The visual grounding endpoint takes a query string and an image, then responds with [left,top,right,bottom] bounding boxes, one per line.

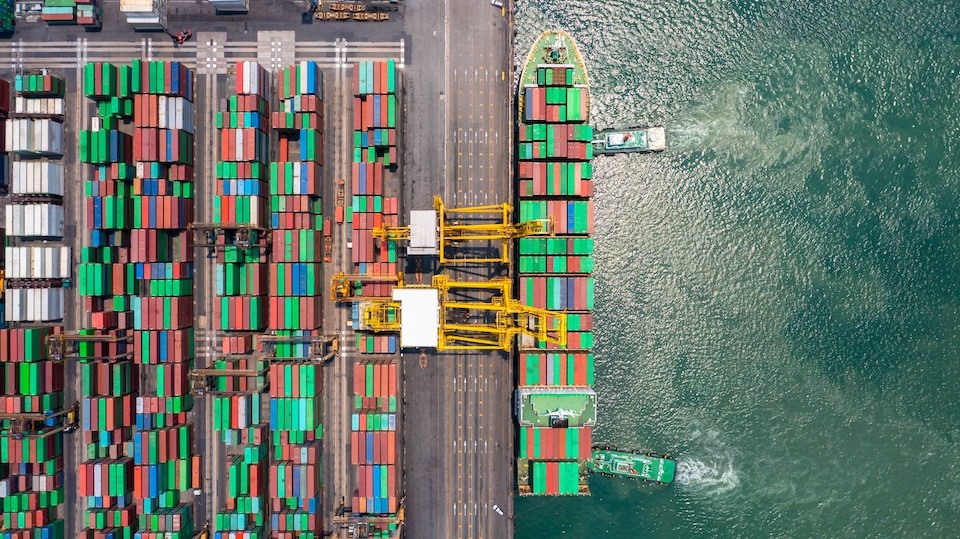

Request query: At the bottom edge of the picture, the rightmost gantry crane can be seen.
[327,494,407,539]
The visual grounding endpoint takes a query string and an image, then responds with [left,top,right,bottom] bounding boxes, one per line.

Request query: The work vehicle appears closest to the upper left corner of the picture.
[162,30,190,48]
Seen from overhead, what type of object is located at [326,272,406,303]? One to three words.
container crane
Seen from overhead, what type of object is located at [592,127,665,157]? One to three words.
boat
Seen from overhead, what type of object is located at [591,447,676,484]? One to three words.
boat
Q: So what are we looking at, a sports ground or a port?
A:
port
